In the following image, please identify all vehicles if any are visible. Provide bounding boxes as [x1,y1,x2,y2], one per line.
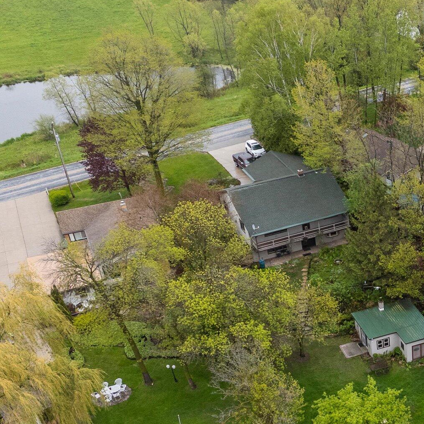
[246,137,266,154]
[230,145,253,164]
